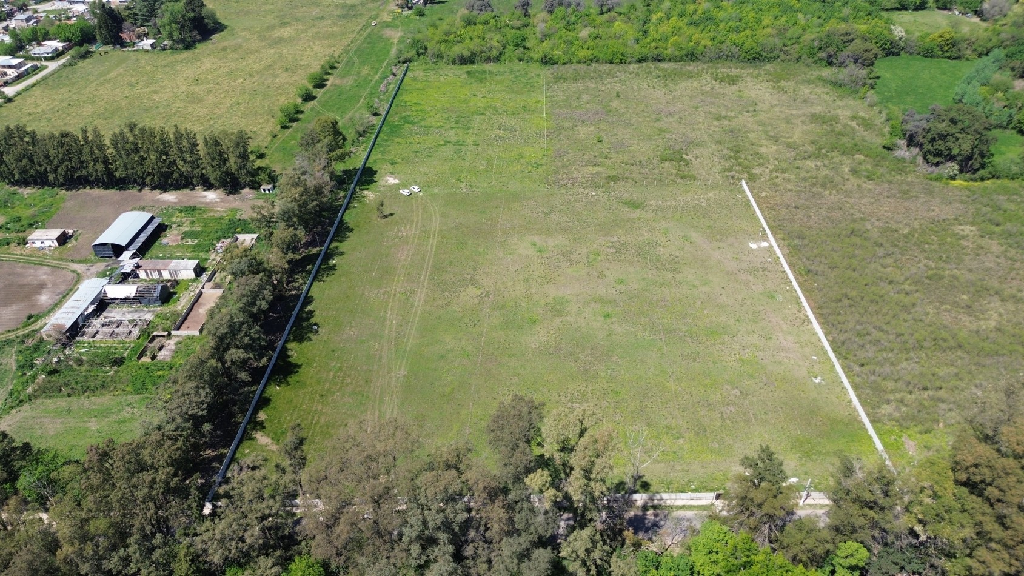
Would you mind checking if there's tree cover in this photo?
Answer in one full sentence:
Yes, some tree cover is visible.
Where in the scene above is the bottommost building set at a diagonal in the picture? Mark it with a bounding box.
[42,279,112,341]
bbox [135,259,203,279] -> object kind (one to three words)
shed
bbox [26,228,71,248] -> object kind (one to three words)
house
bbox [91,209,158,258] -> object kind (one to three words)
hangar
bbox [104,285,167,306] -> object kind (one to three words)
greenhouse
